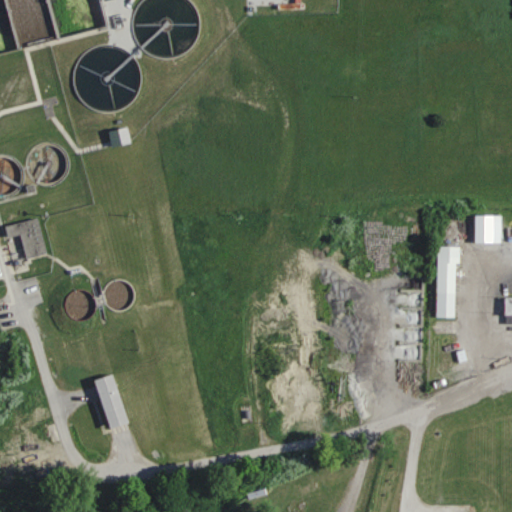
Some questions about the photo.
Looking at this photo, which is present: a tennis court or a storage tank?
storage tank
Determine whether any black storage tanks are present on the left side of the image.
Yes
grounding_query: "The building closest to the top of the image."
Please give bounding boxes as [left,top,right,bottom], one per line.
[104,126,131,148]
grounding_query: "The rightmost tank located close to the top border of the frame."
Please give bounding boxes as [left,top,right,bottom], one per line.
[133,0,201,59]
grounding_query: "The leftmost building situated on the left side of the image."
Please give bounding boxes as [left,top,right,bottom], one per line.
[4,218,46,259]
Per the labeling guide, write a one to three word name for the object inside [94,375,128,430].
building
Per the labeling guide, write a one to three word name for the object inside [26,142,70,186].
storage tank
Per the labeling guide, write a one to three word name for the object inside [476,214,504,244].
shed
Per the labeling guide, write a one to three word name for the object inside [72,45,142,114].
storage tank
